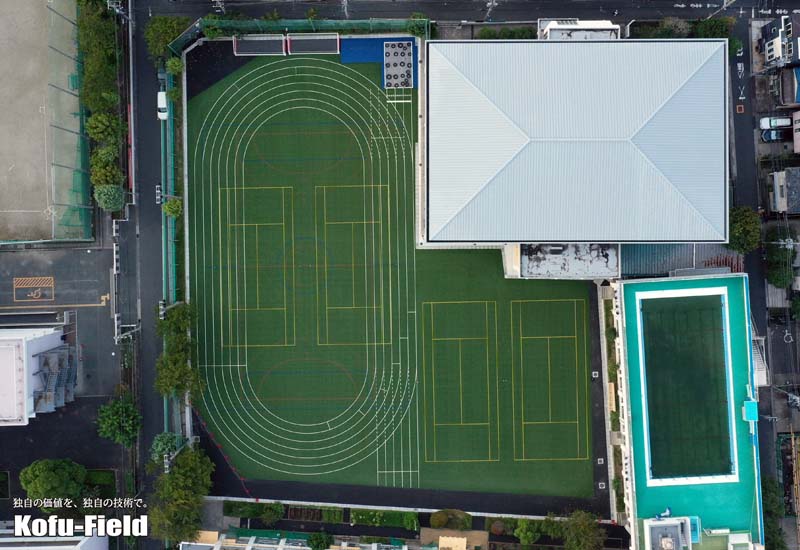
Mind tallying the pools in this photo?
1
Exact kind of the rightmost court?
tennis court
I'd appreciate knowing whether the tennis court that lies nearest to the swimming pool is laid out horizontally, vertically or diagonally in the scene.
vertically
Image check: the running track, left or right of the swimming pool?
left of it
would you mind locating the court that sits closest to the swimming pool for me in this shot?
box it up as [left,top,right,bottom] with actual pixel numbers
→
[511,299,589,461]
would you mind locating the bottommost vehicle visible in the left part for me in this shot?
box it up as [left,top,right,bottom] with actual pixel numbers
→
[157,91,170,122]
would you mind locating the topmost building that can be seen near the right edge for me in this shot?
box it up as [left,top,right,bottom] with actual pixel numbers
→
[763,8,800,66]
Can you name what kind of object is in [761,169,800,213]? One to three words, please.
house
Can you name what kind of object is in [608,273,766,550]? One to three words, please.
building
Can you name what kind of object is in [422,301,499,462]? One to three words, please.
tennis court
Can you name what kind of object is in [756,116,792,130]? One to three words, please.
vehicle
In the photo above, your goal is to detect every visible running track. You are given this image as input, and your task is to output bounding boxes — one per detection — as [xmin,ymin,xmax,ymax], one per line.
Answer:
[195,57,419,486]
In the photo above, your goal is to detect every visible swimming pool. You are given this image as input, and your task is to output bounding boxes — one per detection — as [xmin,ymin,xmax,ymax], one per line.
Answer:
[634,287,740,487]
